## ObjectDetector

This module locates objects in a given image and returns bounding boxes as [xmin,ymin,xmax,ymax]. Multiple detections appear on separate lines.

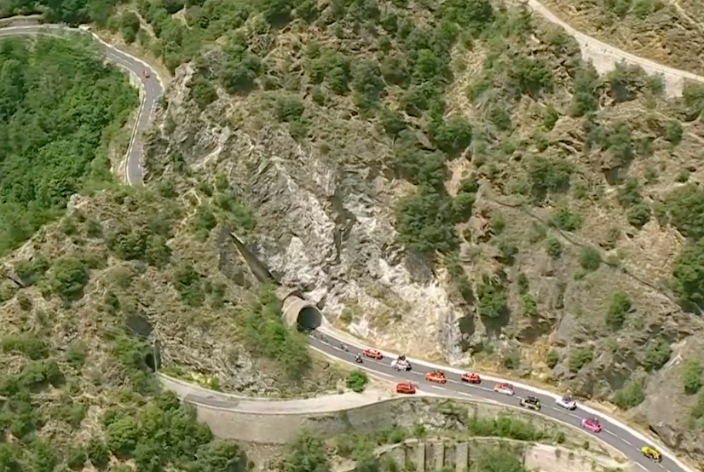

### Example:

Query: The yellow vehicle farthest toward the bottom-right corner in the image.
[641,445,662,460]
